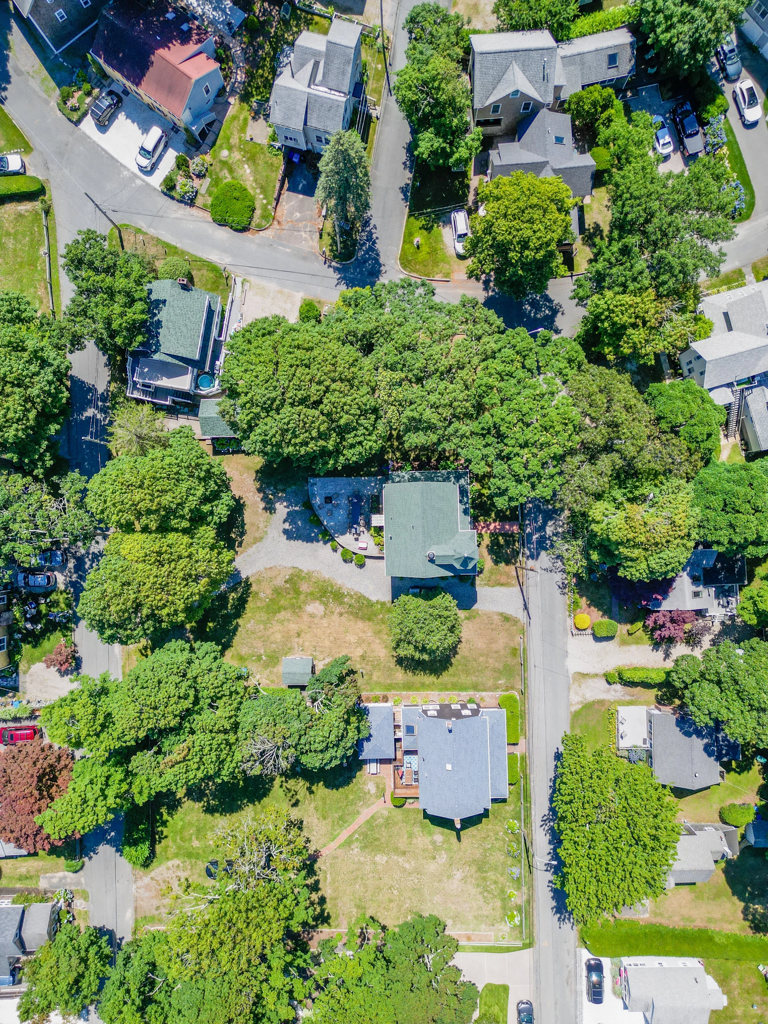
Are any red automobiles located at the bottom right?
No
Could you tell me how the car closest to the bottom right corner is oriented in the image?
up and down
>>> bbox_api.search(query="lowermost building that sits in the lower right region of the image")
[614,953,727,1024]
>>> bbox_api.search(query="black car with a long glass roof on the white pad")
[583,954,607,1005]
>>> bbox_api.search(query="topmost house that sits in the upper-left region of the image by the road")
[12,0,96,52]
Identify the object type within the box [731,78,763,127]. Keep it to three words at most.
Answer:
car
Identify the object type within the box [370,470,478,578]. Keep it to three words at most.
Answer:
house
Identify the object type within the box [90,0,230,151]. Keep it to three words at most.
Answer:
house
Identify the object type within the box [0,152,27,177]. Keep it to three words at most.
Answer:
car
